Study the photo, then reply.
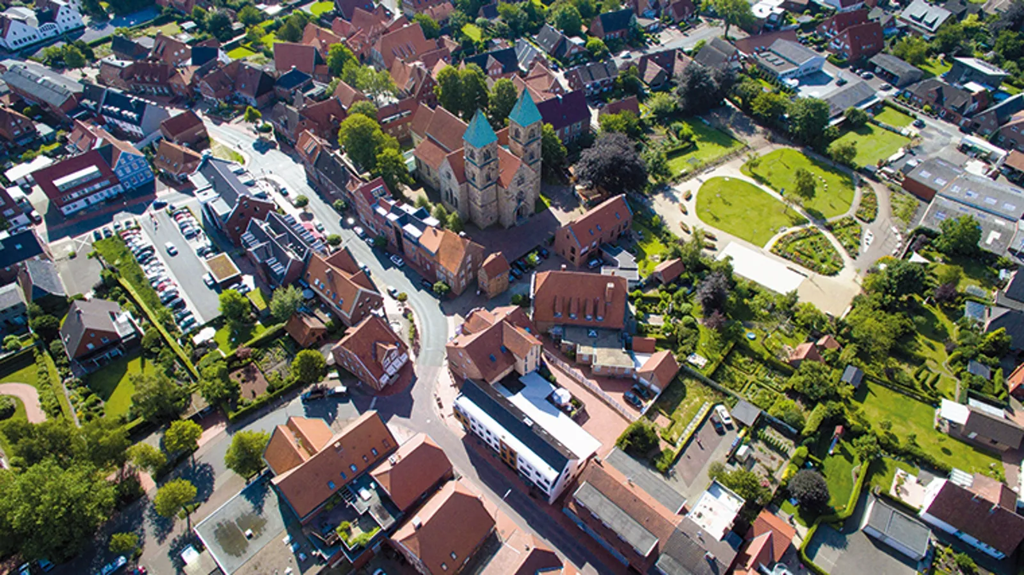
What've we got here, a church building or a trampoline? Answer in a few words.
church building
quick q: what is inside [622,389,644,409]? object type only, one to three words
car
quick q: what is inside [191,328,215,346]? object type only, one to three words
umbrella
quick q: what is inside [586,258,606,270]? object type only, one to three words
vehicle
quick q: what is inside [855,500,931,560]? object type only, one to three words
building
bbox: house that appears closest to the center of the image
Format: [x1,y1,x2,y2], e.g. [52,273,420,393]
[474,251,511,295]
